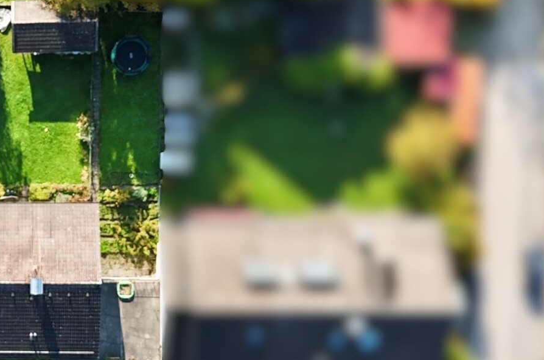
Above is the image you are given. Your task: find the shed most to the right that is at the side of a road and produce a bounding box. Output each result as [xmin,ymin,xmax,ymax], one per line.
[443,61,481,146]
